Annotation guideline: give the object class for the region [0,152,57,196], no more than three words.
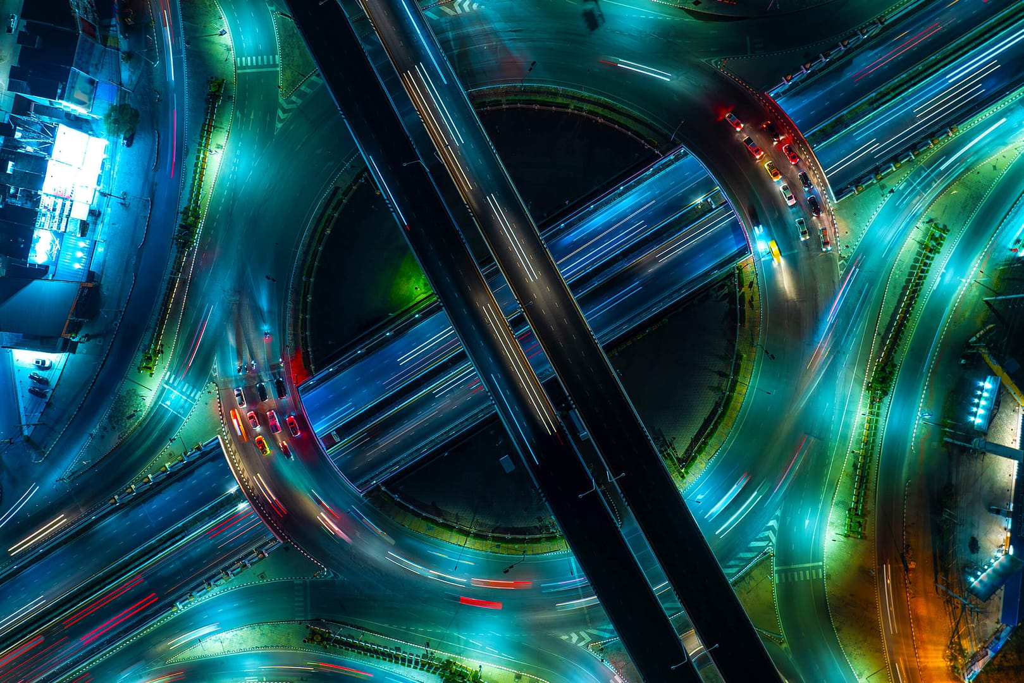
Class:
building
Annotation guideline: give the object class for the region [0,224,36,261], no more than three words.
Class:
building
